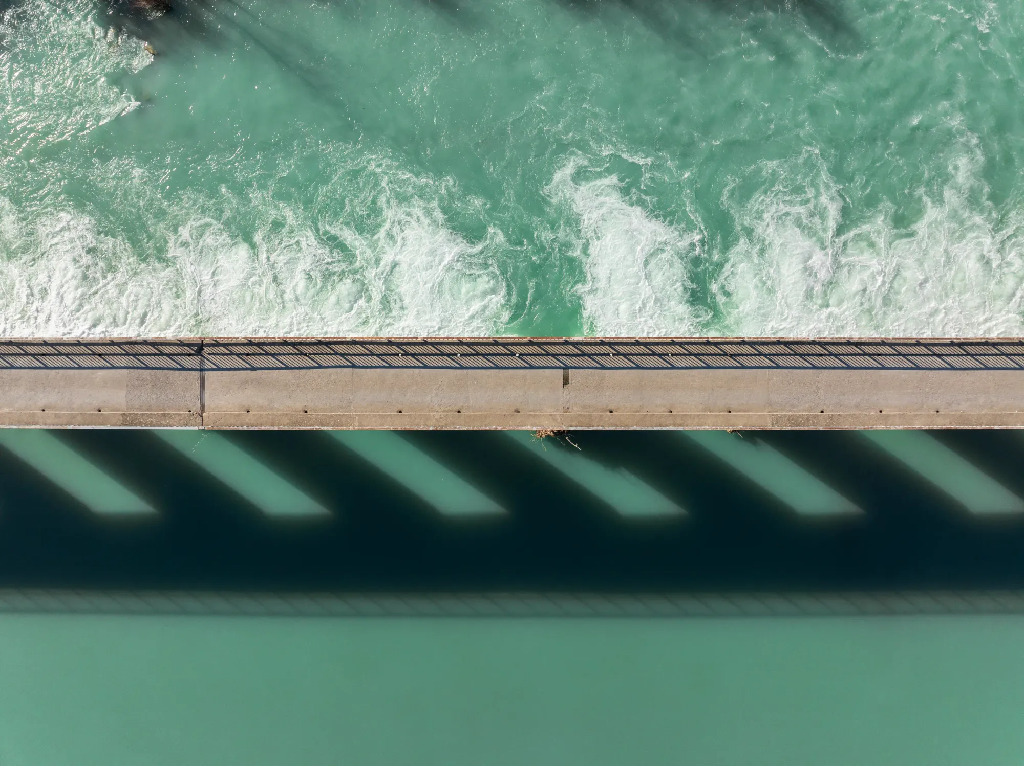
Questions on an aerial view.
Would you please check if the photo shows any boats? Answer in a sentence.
No, no boat is visible in the scene.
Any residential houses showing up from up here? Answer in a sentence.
No, there's no residential house here.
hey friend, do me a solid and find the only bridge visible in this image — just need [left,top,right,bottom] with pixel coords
[0,339,1024,428]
